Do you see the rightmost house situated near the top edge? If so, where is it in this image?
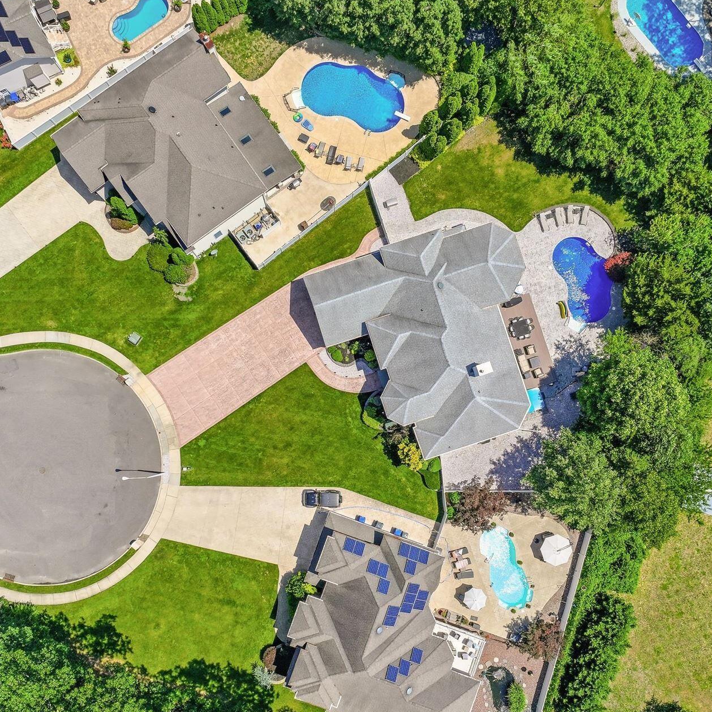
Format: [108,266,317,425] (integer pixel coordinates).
[51,24,302,255]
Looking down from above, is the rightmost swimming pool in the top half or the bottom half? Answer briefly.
top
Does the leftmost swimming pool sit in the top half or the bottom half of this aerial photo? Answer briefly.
top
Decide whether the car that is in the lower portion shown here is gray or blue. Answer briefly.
gray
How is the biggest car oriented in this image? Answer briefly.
horizontally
